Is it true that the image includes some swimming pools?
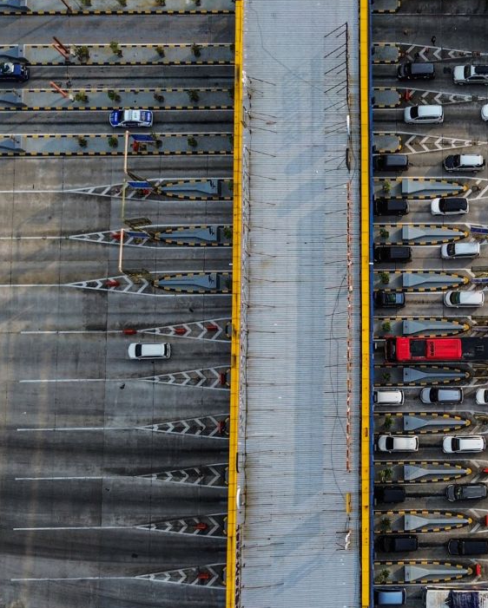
No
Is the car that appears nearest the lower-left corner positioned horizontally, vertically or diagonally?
horizontally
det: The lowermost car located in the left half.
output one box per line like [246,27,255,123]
[128,341,173,361]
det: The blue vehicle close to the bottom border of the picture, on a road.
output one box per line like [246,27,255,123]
[375,587,409,608]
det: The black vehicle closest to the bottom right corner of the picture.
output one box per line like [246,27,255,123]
[447,537,488,558]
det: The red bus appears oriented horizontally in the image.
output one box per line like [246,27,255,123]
[384,336,488,364]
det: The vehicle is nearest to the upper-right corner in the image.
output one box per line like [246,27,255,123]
[452,62,488,85]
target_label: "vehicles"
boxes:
[375,387,406,408]
[384,336,488,364]
[374,196,409,217]
[375,485,408,505]
[443,150,487,173]
[374,289,409,309]
[374,244,413,263]
[430,195,469,217]
[420,385,463,406]
[377,433,419,453]
[398,60,435,82]
[110,107,155,128]
[375,533,418,554]
[442,434,485,454]
[0,62,33,83]
[447,537,488,558]
[374,151,410,172]
[440,239,480,259]
[421,582,488,608]
[445,482,488,503]
[375,587,409,608]
[480,103,488,122]
[443,289,484,308]
[452,62,488,85]
[128,341,173,361]
[404,104,444,125]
